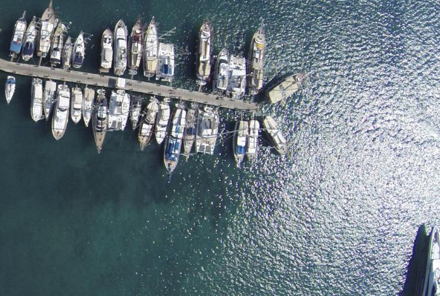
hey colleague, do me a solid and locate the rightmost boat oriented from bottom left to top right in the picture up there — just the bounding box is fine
[264,74,305,106]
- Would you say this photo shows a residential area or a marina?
marina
